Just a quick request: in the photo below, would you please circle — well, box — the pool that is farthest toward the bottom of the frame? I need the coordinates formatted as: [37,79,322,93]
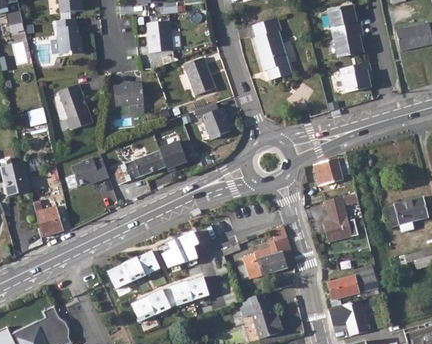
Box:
[114,116,134,128]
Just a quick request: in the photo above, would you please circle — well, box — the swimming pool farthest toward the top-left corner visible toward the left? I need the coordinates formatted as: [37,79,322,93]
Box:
[38,42,52,64]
